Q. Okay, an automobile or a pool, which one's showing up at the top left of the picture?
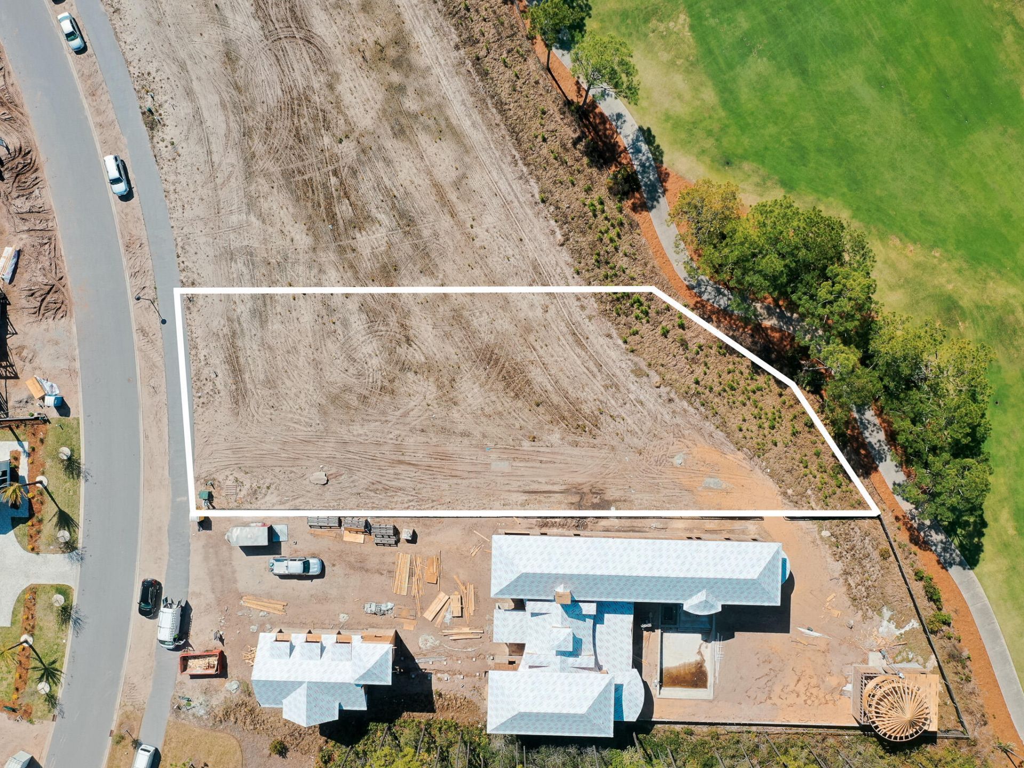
automobile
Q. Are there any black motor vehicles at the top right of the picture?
No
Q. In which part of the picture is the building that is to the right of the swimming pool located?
bottom right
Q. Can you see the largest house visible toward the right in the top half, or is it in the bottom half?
bottom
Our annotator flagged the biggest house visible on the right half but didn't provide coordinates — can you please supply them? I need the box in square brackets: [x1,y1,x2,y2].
[484,530,790,738]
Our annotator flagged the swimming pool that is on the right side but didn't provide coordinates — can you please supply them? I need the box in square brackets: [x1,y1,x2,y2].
[642,602,715,703]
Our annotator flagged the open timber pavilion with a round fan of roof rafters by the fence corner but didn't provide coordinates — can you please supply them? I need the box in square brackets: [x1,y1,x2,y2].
[854,652,941,742]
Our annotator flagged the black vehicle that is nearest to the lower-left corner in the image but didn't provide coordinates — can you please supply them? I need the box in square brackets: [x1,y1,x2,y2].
[137,576,163,618]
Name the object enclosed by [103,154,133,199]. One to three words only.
car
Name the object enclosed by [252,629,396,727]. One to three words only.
house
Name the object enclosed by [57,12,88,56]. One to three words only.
car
